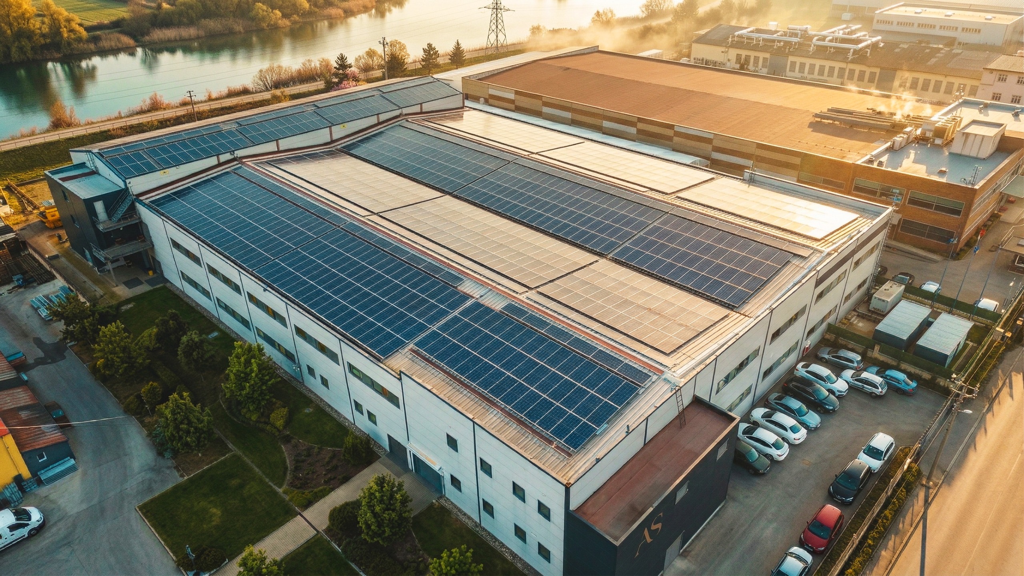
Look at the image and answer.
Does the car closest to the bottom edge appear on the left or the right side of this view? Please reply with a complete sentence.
You can find the car closest to the bottom edge on the right side of the picture.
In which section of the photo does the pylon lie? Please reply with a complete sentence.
You can find the pylon in the top area of the picture.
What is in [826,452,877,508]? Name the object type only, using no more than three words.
car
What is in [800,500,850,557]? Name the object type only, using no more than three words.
car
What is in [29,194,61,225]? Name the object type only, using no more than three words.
truck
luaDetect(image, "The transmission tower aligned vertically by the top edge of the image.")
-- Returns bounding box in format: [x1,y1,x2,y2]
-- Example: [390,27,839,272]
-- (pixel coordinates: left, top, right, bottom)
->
[485,0,509,56]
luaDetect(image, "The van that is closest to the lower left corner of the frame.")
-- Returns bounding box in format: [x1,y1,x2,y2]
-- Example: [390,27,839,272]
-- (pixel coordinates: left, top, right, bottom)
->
[0,510,52,551]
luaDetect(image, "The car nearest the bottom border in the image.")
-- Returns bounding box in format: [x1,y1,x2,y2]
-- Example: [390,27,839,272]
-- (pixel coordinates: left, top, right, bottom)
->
[770,546,821,576]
